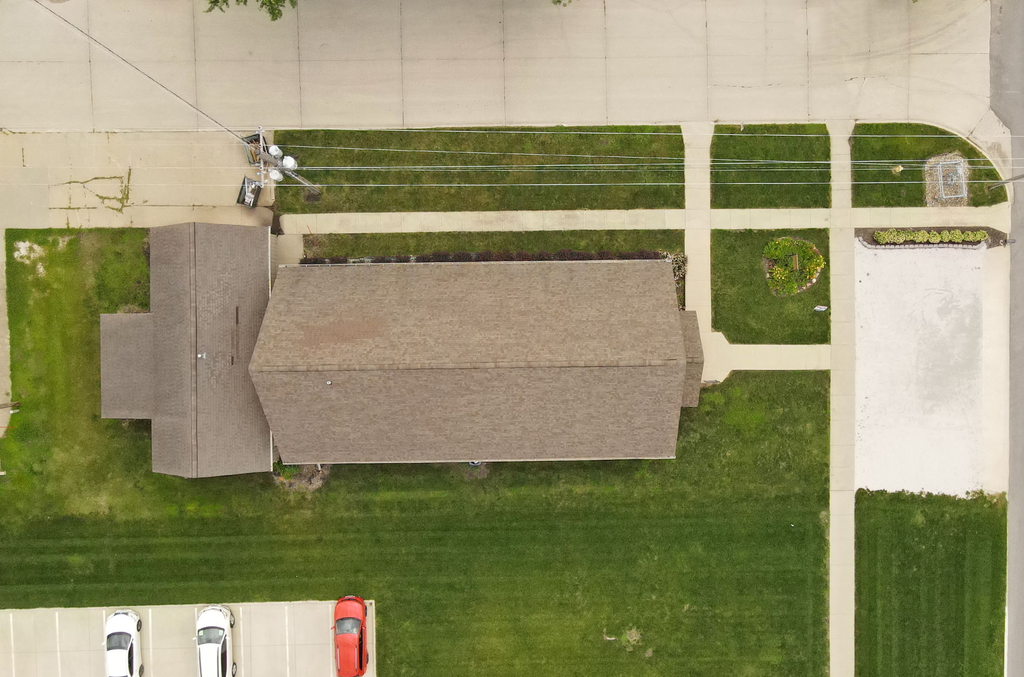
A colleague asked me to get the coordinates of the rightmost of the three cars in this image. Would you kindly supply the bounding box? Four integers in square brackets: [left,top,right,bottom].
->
[328,596,368,677]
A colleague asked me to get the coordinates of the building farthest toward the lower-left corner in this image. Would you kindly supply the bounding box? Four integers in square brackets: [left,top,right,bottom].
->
[101,221,284,478]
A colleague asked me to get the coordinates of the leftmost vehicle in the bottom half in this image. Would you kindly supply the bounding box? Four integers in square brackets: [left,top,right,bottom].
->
[98,609,144,677]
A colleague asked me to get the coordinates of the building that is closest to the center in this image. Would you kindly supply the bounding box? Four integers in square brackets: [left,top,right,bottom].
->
[248,258,703,471]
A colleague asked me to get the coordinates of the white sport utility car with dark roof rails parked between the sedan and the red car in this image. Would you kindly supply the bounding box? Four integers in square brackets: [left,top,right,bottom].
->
[190,604,235,677]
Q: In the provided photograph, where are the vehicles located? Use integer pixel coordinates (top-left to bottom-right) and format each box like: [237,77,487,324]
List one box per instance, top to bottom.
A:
[328,596,368,677]
[190,604,235,677]
[98,609,144,677]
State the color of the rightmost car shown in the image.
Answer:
red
